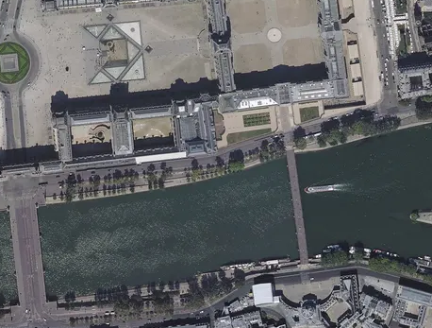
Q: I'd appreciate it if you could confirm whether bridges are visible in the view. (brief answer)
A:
Yes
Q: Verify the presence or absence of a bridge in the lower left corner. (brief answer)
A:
Yes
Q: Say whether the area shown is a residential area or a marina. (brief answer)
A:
marina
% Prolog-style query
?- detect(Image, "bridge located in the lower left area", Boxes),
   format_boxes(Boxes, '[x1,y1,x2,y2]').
[0,178,57,322]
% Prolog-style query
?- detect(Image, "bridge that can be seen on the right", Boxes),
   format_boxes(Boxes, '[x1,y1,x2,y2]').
[286,144,310,269]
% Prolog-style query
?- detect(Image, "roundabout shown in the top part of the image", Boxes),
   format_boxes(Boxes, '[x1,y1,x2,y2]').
[0,33,40,93]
